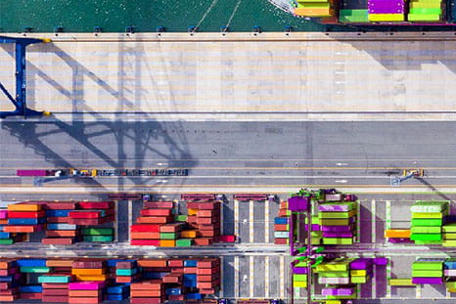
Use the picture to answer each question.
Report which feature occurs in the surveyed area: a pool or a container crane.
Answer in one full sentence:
I can see a container crane in this picture.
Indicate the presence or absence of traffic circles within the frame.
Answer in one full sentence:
No, there is no traffic circle in the image.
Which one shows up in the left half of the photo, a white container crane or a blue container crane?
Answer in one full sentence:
The feature located in the left half of the photo is a blue container crane.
